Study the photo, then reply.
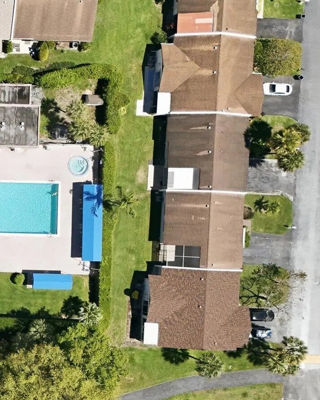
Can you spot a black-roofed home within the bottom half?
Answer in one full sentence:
No, no black-roofed home is visible within the bottom half.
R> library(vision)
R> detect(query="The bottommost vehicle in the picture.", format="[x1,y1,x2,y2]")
[249,325,273,339]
